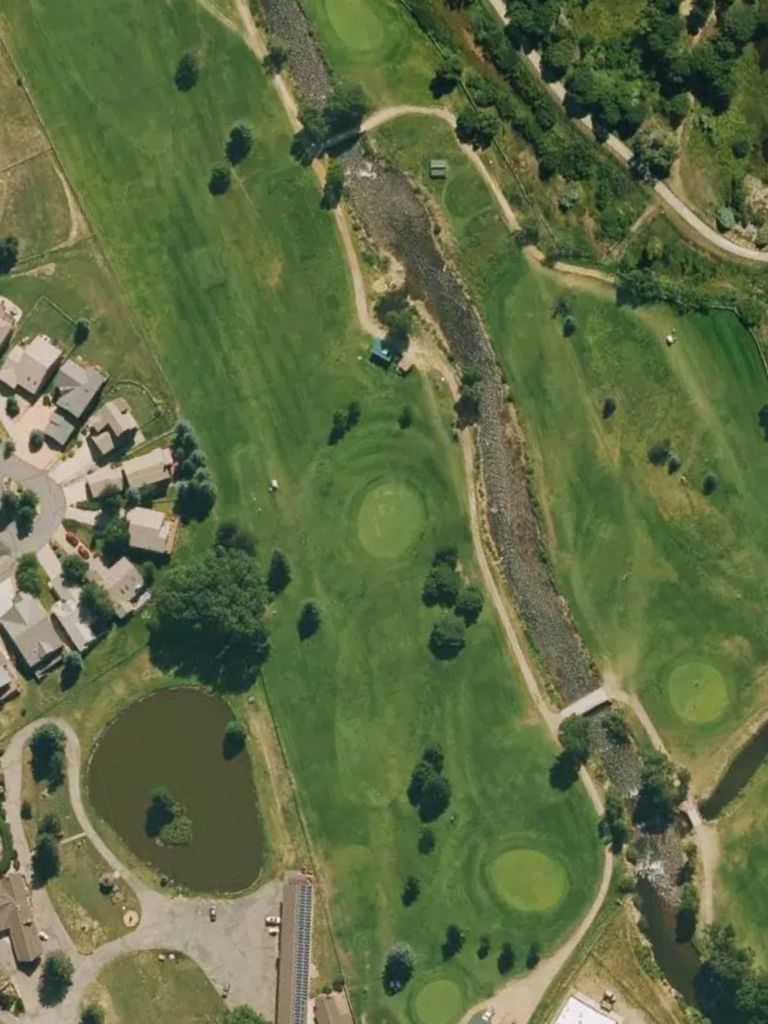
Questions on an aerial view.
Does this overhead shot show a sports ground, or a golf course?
golf course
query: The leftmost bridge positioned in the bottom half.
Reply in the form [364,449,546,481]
[558,690,609,721]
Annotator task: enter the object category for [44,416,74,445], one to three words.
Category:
building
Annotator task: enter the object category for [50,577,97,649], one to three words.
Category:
house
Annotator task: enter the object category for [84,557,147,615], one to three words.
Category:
house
